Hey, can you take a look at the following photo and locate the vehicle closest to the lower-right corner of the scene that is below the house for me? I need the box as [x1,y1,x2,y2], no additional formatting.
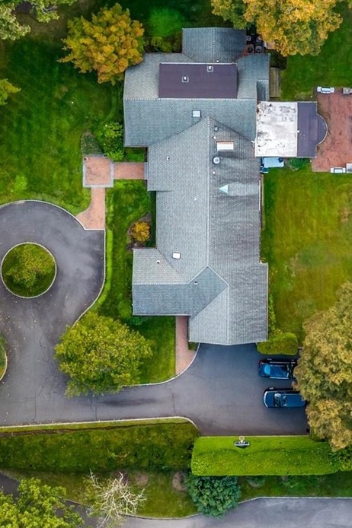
[263,388,304,410]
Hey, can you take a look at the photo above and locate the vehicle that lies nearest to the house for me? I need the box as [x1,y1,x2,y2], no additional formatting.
[257,357,300,379]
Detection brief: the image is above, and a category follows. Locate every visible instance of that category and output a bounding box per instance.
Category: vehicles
[257,357,300,379]
[263,388,304,410]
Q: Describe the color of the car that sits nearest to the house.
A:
blue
